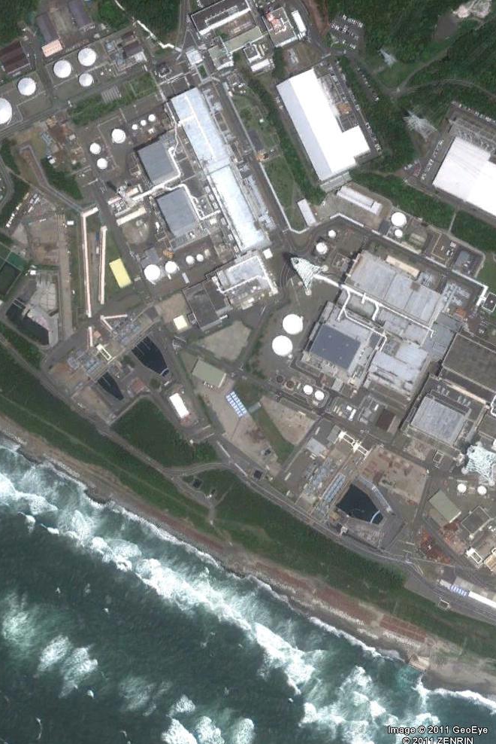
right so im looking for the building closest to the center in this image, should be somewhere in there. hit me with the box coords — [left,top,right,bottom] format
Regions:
[193,359,228,390]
